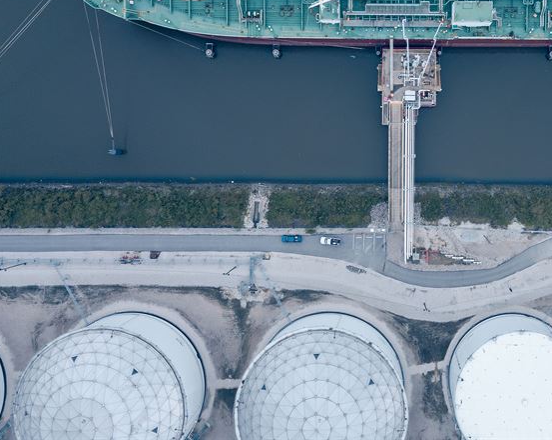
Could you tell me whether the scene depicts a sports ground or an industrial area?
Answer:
industrial area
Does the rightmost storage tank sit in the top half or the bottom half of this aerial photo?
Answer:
bottom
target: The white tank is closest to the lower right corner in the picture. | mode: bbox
[448,314,552,440]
